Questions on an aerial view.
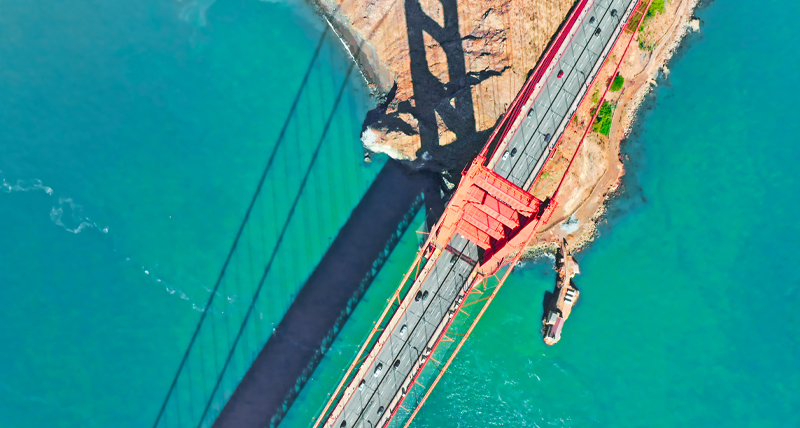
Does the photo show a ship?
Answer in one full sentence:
No, there is no ship in the image.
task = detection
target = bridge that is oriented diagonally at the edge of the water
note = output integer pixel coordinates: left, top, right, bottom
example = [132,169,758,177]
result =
[312,0,656,428]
